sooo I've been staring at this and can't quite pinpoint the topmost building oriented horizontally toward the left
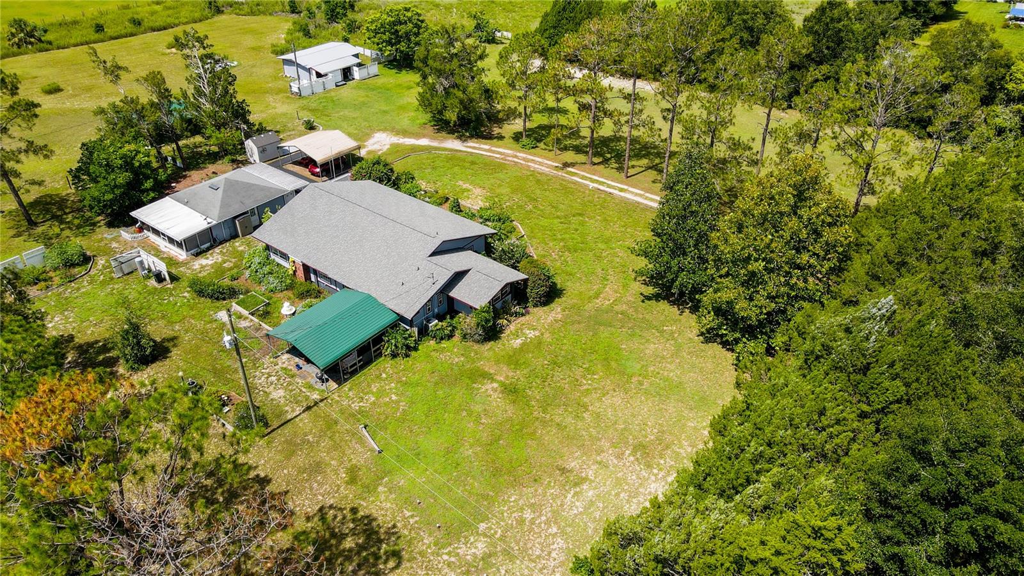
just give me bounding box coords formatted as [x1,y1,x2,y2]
[275,42,363,83]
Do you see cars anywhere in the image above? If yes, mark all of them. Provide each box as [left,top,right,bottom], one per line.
[298,153,315,165]
[309,157,346,176]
